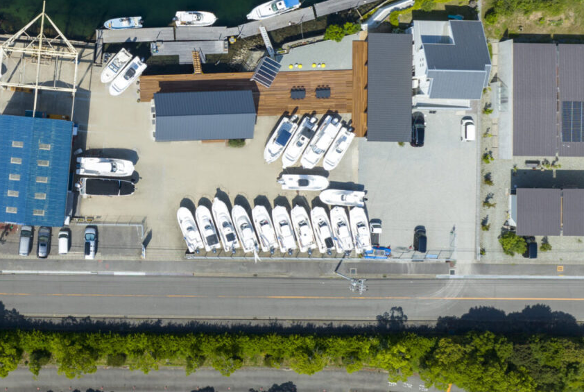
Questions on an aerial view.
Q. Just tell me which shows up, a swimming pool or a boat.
boat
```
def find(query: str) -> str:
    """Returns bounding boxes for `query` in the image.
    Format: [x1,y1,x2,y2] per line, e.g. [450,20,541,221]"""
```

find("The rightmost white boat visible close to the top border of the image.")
[247,0,302,18]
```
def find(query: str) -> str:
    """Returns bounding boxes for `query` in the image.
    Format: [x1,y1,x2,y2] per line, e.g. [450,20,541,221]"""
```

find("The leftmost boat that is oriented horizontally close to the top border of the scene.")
[104,17,147,29]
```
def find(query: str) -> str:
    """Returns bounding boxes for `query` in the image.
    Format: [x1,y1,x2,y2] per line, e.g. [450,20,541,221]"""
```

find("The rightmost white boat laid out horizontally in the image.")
[321,190,370,206]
